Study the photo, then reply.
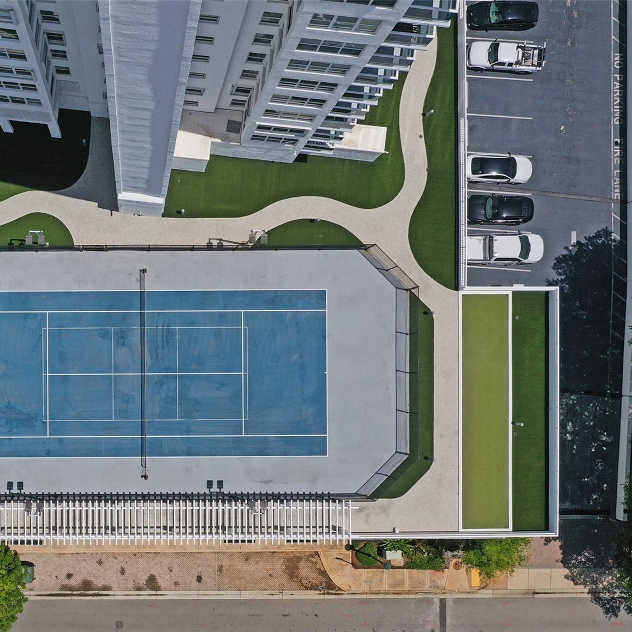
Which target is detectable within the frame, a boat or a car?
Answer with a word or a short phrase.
car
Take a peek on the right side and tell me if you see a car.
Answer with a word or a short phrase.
Yes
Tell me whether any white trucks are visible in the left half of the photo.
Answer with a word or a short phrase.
No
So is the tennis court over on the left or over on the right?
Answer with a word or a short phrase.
left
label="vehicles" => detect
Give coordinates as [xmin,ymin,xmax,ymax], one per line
[467,230,545,266]
[467,36,550,74]
[467,152,533,184]
[467,0,537,34]
[467,192,534,226]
